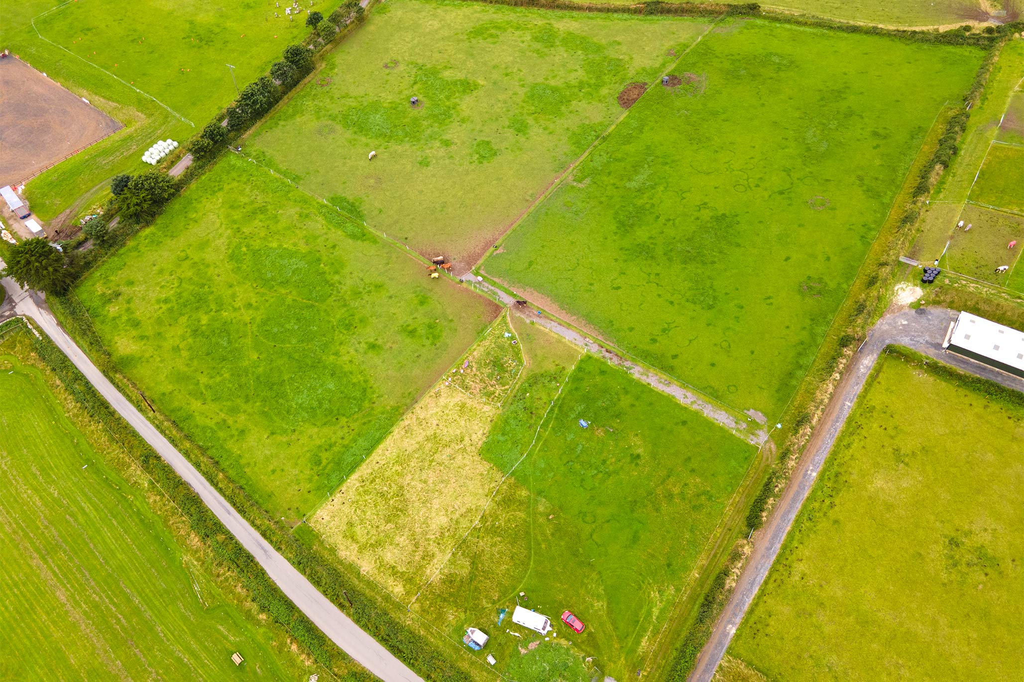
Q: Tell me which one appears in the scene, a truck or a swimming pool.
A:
truck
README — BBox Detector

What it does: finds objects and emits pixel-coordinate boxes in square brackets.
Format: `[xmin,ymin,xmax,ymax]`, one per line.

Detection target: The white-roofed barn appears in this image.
[946,310,1024,381]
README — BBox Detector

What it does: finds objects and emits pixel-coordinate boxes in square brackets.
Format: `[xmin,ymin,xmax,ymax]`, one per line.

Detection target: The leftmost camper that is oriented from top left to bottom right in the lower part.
[464,628,489,648]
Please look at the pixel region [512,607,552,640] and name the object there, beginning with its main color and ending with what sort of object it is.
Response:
white camper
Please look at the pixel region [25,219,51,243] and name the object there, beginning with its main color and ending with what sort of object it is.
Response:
white truck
